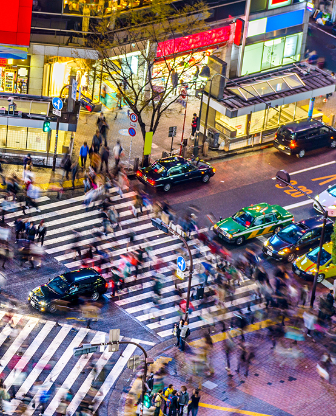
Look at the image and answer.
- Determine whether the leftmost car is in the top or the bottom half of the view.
bottom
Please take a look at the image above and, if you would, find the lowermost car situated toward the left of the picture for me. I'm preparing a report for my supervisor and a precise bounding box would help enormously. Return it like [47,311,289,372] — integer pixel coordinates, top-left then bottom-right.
[23,263,114,315]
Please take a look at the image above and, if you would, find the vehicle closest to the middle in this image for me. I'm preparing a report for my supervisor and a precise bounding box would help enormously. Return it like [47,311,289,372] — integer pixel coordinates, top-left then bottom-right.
[137,154,219,193]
